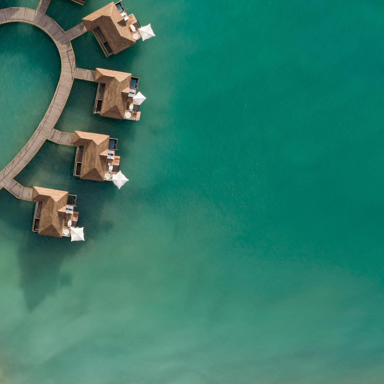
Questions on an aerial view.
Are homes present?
Yes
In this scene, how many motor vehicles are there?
0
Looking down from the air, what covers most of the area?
water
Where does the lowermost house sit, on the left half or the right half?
left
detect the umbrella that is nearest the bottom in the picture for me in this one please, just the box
[70,228,85,242]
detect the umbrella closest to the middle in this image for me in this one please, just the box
[111,172,129,190]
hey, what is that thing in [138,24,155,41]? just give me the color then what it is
white umbrella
